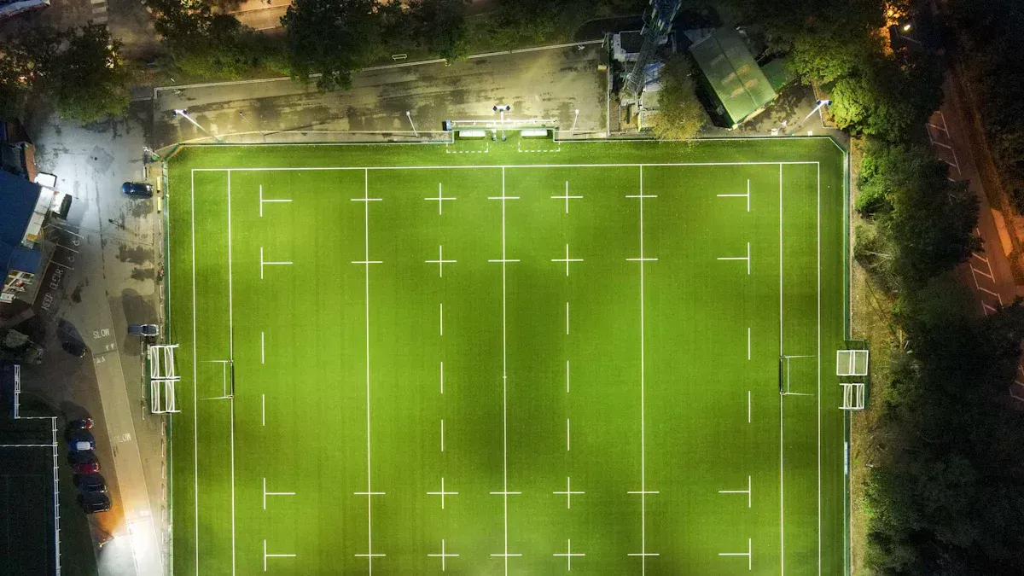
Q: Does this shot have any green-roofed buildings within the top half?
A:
Yes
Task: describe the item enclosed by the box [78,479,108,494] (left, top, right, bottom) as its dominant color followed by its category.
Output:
black car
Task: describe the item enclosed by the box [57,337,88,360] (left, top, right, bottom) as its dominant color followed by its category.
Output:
black car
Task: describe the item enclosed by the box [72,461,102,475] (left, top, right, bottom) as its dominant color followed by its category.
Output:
red car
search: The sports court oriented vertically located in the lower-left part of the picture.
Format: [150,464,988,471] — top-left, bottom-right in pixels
[0,363,56,576]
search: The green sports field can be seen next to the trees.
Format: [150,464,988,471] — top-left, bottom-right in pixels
[147,130,863,576]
